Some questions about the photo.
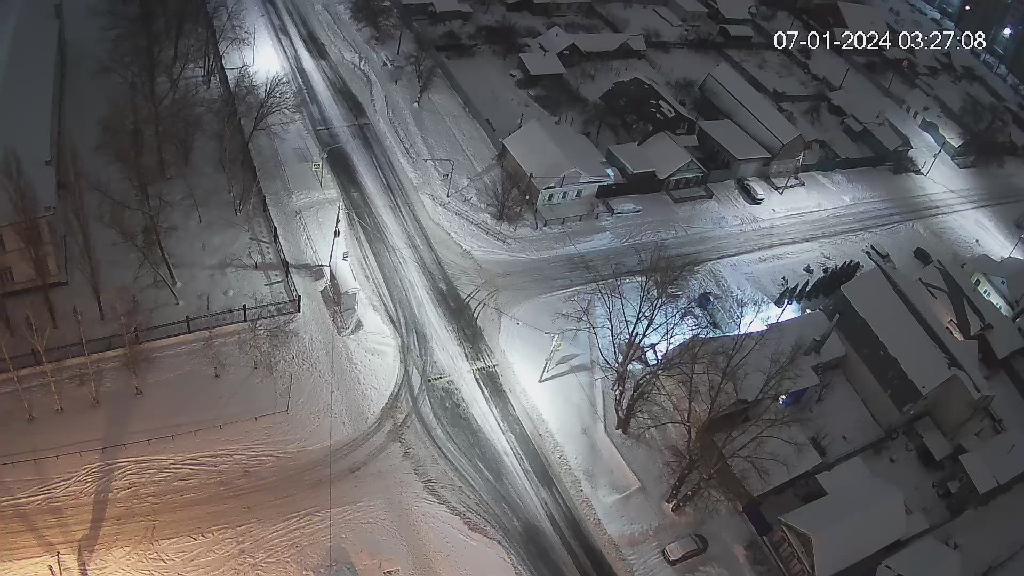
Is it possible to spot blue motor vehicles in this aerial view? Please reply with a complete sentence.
No, the photo shows no blue motor vehicle.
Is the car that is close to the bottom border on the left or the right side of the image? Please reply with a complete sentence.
The car that is close to the bottom border is on the right side of the image.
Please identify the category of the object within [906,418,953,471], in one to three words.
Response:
shed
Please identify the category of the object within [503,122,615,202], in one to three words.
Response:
house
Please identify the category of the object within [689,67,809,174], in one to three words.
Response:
house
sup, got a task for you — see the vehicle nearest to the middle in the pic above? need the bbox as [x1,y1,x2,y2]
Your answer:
[610,198,644,216]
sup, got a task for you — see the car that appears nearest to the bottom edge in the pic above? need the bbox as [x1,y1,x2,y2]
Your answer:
[662,535,712,568]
